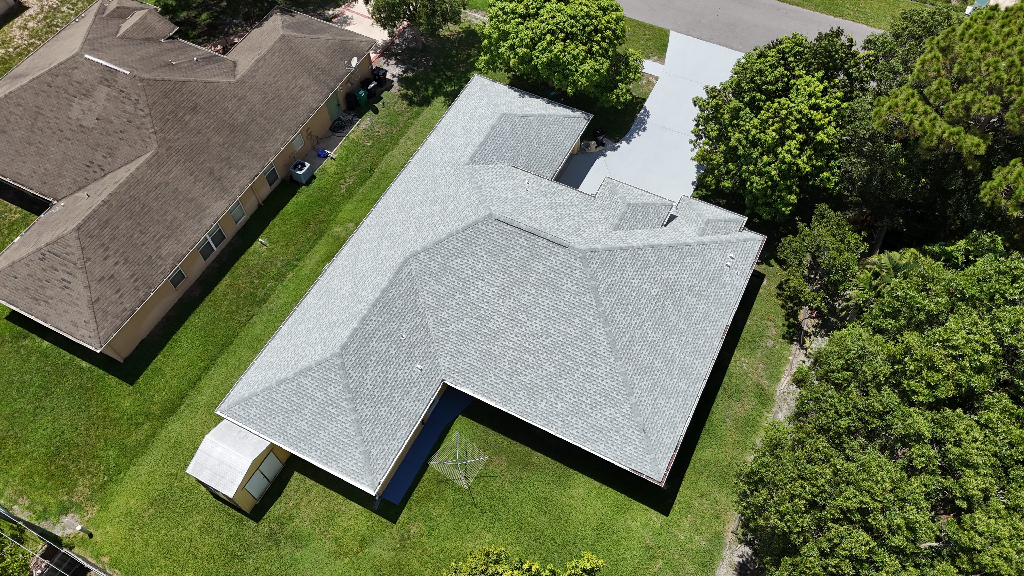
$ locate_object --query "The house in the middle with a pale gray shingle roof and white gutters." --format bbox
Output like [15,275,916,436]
[215,74,766,507]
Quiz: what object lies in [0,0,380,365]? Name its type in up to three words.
house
